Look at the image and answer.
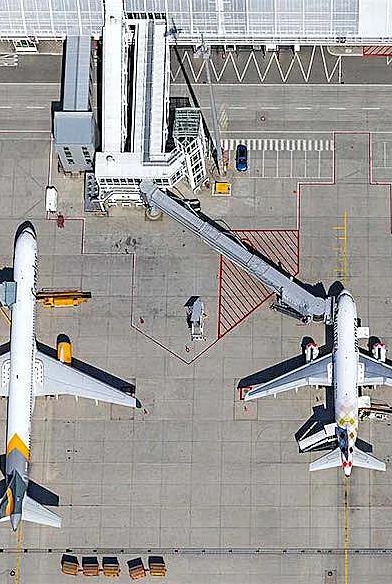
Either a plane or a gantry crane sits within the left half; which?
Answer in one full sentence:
Visible within the left half is a plane.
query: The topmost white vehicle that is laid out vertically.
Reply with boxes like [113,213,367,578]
[45,188,57,214]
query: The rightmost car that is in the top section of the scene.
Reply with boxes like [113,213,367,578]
[235,145,248,173]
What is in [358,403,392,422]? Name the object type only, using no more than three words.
work vehicle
